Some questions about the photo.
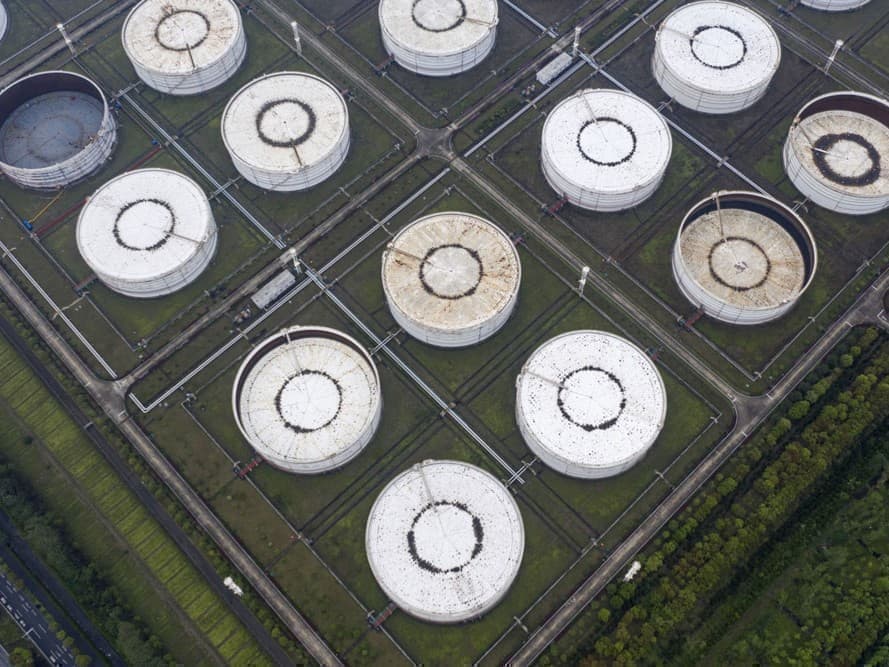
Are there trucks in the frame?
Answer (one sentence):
No, there's no truck here.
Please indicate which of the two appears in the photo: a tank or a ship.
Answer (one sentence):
I can see a tank in this picture.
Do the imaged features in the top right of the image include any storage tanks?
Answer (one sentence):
Yes, the scene does show a storage tank in the top right of the image.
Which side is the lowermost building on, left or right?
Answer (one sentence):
It is on the left.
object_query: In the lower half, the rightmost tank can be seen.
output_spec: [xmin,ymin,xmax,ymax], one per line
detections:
[512,327,668,481]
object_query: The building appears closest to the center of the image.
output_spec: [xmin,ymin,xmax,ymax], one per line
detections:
[250,269,297,310]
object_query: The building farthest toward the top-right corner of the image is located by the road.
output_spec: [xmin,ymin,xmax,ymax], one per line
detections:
[535,51,575,87]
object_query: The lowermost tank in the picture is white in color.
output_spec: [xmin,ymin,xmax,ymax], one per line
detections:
[364,457,527,626]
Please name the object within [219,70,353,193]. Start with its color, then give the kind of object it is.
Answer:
white storage tank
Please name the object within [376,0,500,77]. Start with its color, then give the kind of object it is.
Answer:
white storage tank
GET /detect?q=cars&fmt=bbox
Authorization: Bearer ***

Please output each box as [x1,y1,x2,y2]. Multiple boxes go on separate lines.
[12,611,20,620]
[5,604,14,612]
[0,596,7,604]
[104,650,112,659]
[18,618,26,627]
[48,654,56,664]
